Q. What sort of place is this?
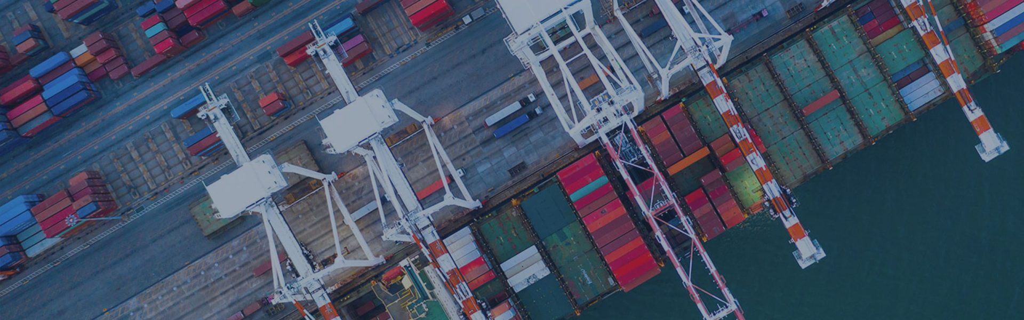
port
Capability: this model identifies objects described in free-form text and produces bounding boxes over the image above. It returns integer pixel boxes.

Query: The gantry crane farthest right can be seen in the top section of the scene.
[894,0,1010,165]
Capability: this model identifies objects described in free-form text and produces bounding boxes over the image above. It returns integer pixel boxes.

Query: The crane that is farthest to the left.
[190,82,398,320]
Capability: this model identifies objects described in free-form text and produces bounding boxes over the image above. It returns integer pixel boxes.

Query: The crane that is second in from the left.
[299,19,498,320]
